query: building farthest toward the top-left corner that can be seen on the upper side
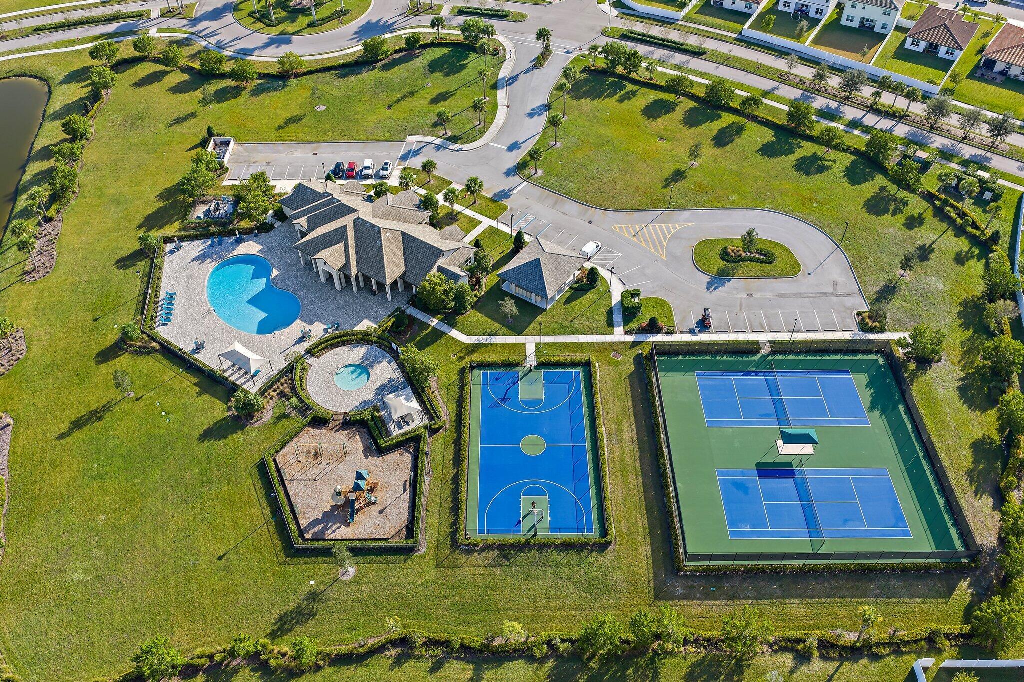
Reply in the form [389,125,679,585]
[205,136,232,166]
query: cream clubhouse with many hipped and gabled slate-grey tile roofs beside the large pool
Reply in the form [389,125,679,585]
[277,179,479,301]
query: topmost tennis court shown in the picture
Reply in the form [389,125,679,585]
[695,361,871,429]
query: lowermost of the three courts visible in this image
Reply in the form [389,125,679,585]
[718,458,915,544]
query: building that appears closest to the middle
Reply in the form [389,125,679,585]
[497,236,587,308]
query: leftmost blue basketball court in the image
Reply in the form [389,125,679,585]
[477,372,594,536]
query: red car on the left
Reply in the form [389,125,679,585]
[346,160,358,176]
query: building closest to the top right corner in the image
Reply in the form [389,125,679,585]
[984,22,1024,76]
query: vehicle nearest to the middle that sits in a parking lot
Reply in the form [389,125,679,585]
[582,239,606,259]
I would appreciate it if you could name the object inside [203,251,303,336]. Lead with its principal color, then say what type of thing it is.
blue swimming pool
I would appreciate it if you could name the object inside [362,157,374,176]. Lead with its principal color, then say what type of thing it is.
white vehicle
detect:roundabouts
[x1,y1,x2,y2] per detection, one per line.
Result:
[188,0,412,56]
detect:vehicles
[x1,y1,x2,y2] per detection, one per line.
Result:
[703,307,715,326]
[346,160,358,176]
[582,239,606,259]
[362,157,374,176]
[332,159,345,176]
[379,159,391,175]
